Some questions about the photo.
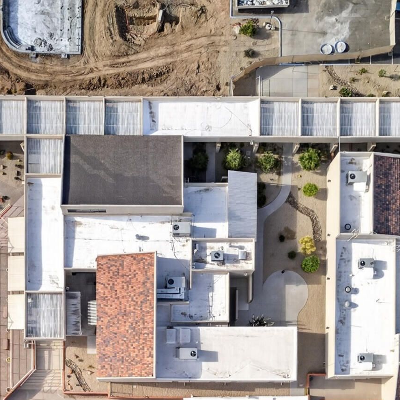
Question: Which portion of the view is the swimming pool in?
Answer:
top left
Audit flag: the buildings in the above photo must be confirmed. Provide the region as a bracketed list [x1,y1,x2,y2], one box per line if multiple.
[25,134,298,385]
[324,152,400,400]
